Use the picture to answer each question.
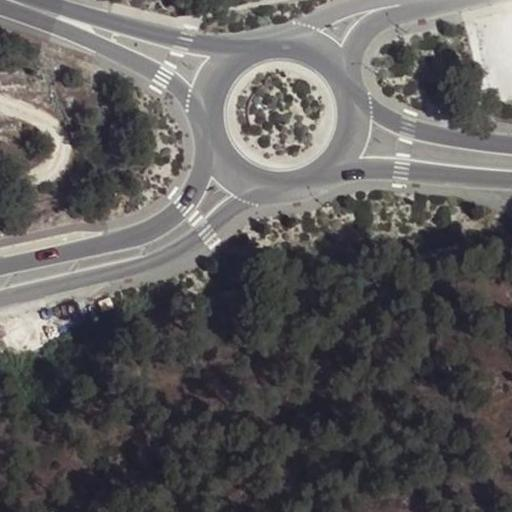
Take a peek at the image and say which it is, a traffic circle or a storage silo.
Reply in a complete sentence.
I can see a traffic circle in this picture.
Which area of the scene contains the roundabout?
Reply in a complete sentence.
The roundabout is in the top part of the image.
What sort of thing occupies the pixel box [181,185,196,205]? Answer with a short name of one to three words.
car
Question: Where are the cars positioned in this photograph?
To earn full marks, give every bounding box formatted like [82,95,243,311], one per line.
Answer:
[342,169,364,180]
[36,248,59,260]
[181,185,196,205]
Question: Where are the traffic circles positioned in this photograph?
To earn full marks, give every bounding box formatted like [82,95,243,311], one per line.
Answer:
[194,28,366,200]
